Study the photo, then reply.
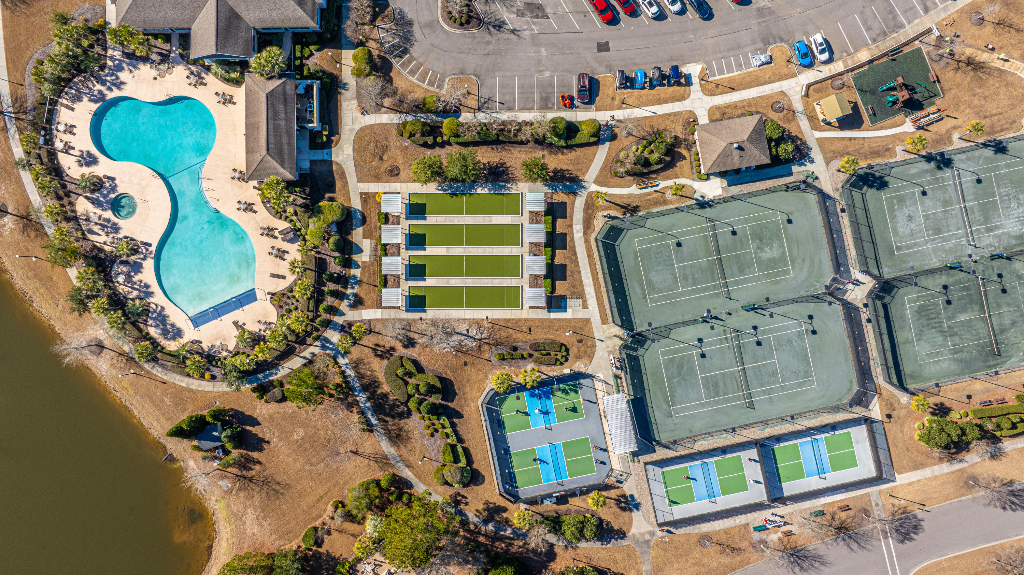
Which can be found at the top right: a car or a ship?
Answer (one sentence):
Visible at the top right is a car.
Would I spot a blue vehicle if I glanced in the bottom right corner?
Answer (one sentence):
No, in the bottom right corner there is no blue vehicle.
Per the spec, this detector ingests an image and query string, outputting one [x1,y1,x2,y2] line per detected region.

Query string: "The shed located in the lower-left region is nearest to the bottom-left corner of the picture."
[197,423,225,451]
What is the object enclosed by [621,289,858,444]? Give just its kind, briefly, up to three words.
tennis court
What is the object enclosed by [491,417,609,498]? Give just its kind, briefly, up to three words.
sports court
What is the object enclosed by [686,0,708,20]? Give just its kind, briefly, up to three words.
car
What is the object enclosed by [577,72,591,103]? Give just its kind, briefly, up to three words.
car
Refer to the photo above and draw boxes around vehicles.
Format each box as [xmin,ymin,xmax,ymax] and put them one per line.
[686,0,708,20]
[616,0,635,16]
[808,31,828,62]
[663,0,681,15]
[588,0,611,23]
[670,66,682,84]
[637,0,660,19]
[635,70,645,88]
[616,70,627,88]
[792,39,811,67]
[577,72,591,103]
[652,67,663,85]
